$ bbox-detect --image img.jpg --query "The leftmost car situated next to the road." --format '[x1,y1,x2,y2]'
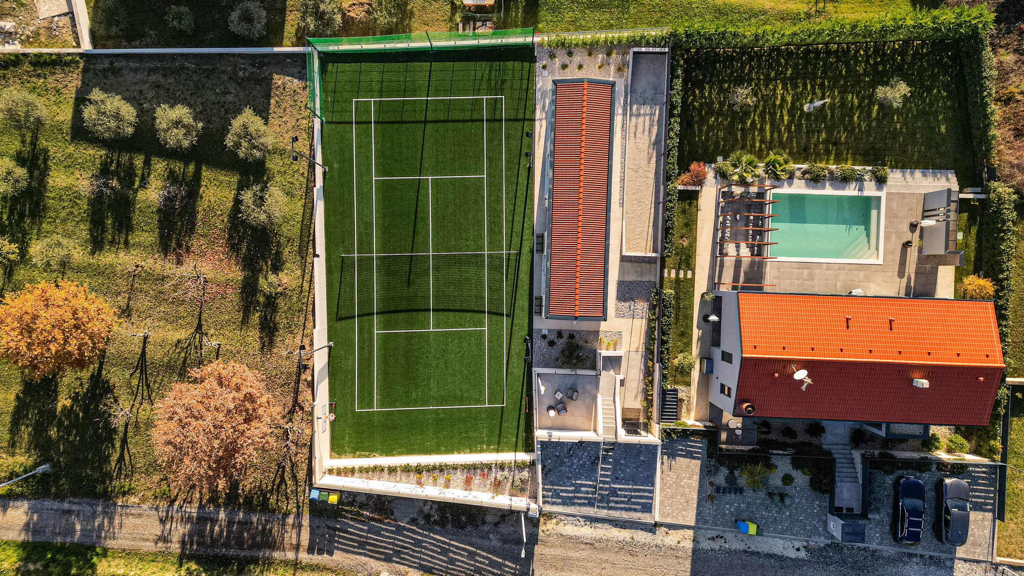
[892,475,929,545]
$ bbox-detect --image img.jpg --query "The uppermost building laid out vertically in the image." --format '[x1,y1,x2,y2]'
[545,78,615,326]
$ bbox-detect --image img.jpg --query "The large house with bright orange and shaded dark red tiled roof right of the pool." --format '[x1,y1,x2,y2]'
[708,290,1011,449]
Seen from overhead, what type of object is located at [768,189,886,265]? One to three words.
swimming pool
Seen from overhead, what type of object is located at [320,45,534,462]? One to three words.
tennis court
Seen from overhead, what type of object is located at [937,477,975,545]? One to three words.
car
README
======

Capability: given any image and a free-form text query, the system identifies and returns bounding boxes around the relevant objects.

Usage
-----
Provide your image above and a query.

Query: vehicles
[892,475,929,545]
[937,477,975,545]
